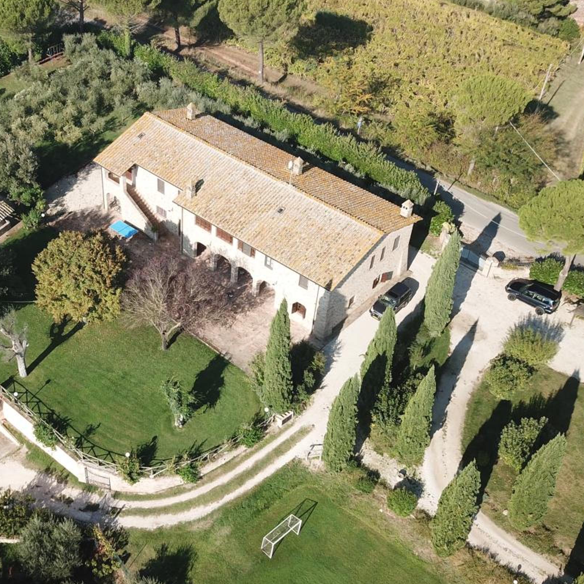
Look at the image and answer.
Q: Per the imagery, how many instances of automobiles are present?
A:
2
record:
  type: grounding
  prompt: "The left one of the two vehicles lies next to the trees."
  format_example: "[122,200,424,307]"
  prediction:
[370,277,419,322]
